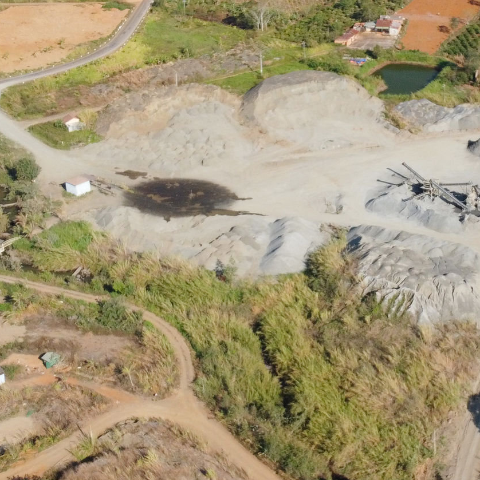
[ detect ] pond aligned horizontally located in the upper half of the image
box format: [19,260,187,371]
[371,63,440,94]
